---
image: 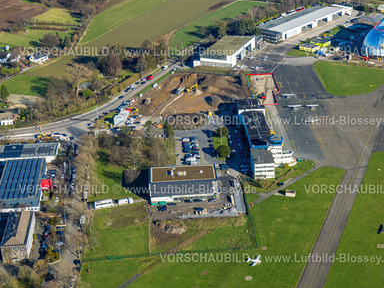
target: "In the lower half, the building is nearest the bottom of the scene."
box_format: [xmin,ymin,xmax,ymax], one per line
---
[1,209,33,261]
